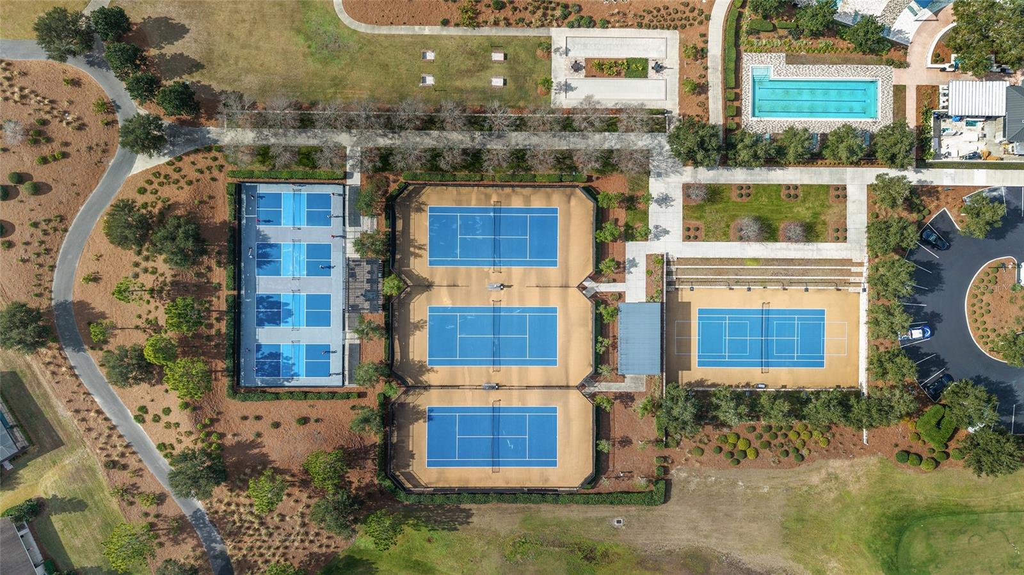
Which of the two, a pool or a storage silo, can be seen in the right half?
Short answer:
pool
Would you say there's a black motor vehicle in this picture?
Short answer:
Yes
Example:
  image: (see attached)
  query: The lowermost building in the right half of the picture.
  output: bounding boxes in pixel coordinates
[615,303,661,375]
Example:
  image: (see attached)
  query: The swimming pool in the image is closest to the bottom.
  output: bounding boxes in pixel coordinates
[742,52,893,133]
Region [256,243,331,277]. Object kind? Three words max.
sports court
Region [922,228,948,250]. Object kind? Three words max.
car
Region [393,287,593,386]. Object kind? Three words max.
tennis court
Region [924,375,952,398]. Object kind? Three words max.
car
